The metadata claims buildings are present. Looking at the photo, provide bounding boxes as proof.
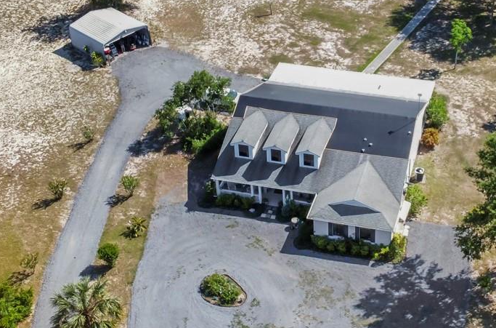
[209,64,436,247]
[66,5,153,65]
